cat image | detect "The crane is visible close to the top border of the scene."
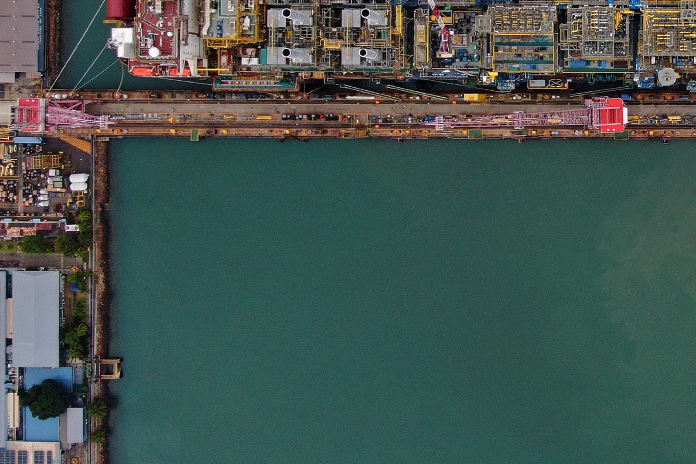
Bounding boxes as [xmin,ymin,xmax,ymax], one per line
[428,0,453,61]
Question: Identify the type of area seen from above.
port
